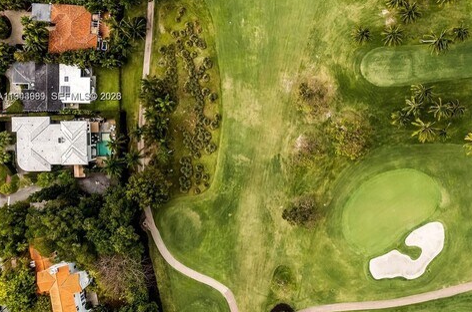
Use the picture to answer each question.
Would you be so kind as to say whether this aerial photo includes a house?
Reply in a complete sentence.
Yes, the photo shows a house.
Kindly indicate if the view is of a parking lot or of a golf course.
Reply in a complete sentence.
This looks like a golf course.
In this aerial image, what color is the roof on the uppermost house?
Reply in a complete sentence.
The roof over the uppermost house appears orange.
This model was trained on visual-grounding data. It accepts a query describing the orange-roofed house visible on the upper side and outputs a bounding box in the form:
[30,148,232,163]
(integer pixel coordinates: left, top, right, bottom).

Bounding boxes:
[32,2,103,53]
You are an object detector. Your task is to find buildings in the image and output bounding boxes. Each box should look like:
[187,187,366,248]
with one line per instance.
[32,2,103,53]
[10,62,98,110]
[11,116,96,178]
[29,245,95,312]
